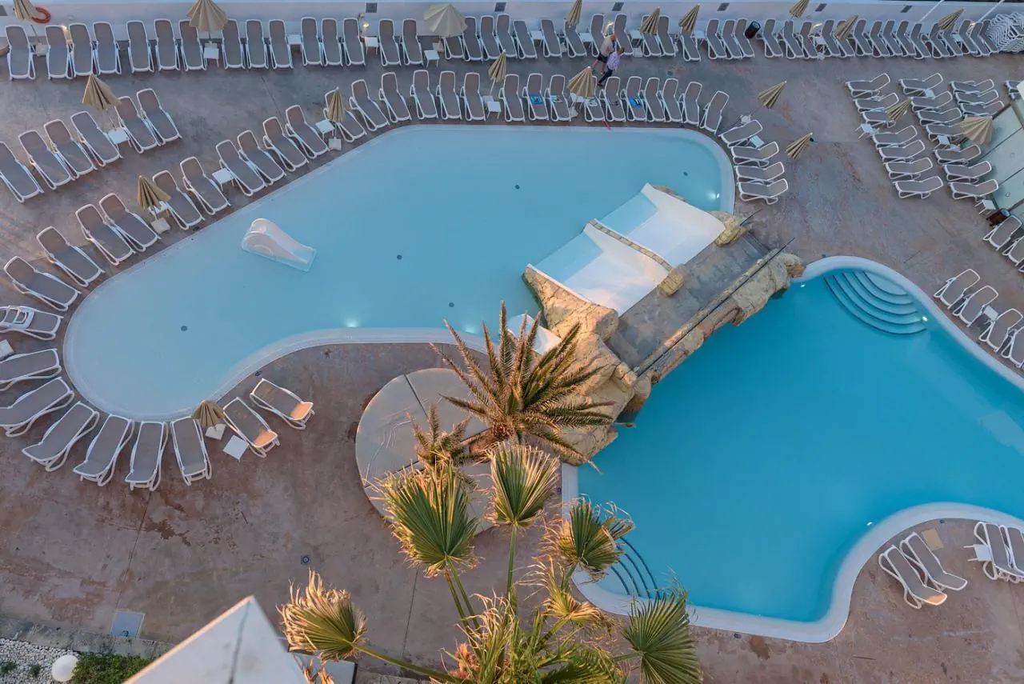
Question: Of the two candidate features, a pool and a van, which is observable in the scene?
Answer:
pool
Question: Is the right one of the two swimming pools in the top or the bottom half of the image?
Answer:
bottom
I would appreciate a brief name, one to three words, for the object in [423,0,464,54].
umbrella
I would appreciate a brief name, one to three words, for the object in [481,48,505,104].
umbrella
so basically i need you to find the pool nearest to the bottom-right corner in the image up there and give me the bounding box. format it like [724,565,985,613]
[577,266,1024,625]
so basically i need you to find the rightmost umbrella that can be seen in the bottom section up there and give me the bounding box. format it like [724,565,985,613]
[192,399,230,442]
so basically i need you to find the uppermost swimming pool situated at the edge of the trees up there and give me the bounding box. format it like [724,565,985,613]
[70,131,724,420]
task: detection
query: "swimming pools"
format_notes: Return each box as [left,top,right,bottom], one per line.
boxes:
[577,266,1024,625]
[70,131,724,420]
